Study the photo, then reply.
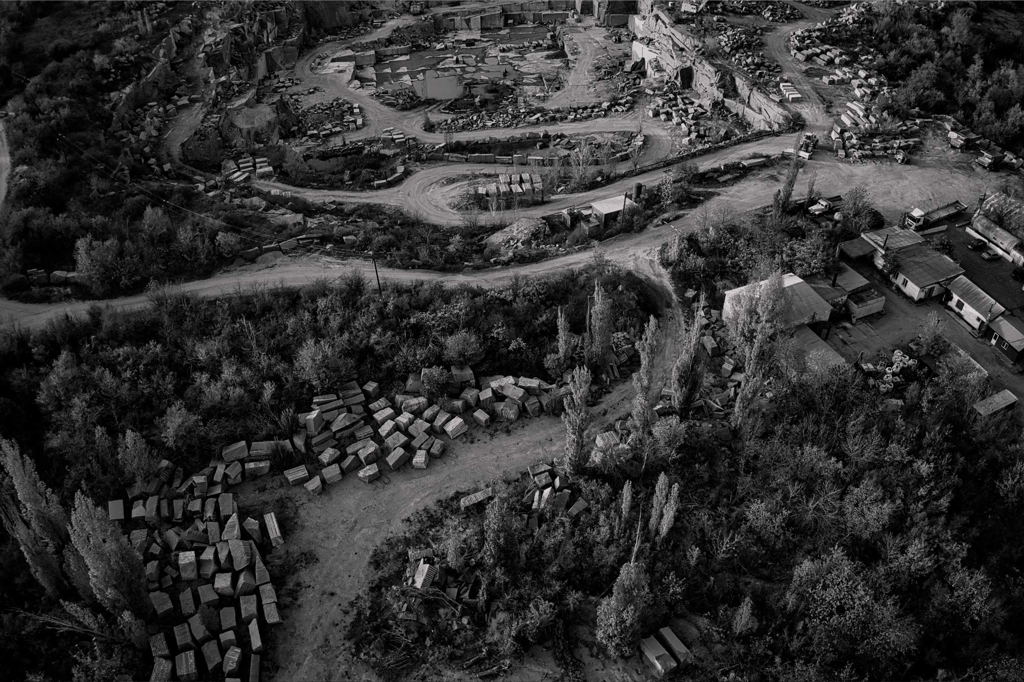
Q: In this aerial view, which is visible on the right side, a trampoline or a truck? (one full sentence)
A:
The one visible on the right side is a truck.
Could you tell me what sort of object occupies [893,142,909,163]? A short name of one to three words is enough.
work vehicle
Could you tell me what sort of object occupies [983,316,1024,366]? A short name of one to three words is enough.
shed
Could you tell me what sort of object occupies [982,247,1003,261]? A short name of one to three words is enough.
car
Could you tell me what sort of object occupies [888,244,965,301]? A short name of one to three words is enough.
house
